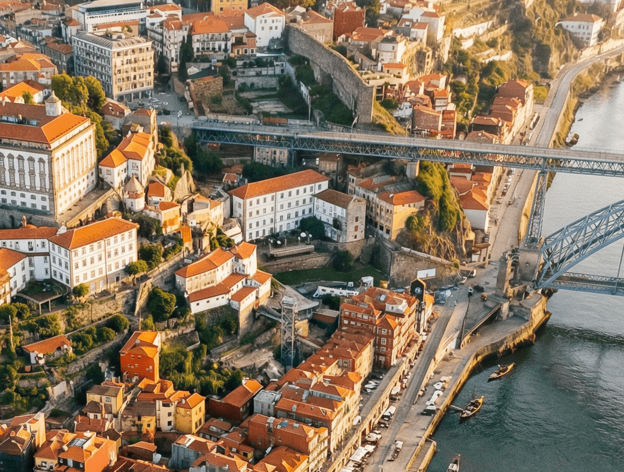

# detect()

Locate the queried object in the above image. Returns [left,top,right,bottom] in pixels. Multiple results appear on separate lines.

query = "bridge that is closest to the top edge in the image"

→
[191,117,624,297]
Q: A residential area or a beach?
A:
residential area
